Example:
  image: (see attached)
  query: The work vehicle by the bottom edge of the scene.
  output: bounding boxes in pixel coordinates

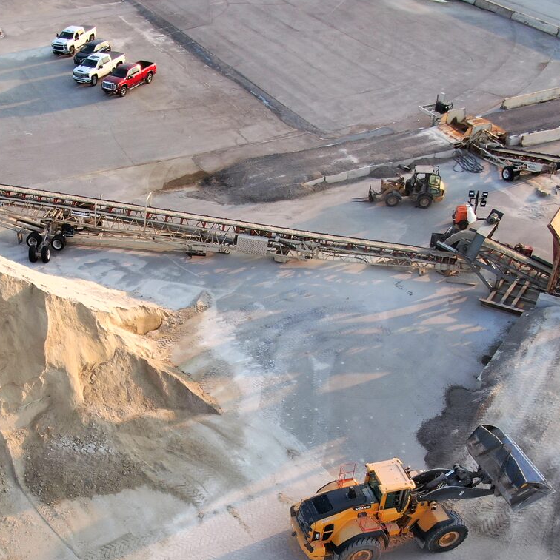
[289,415,544,560]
